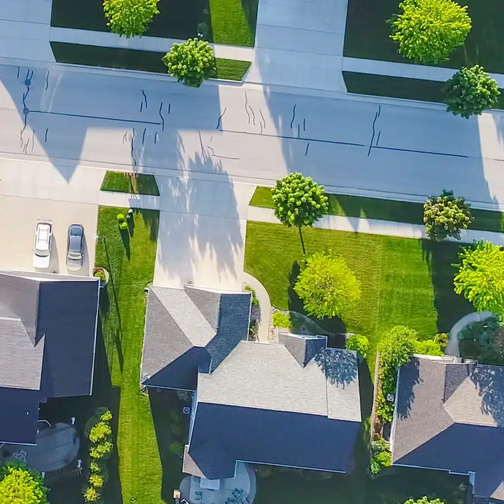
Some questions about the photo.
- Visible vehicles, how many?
2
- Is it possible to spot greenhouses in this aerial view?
No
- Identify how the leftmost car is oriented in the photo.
up and down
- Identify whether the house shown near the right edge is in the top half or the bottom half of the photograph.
bottom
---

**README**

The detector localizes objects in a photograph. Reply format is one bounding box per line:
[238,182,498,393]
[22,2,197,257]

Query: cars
[32,221,55,270]
[65,224,86,271]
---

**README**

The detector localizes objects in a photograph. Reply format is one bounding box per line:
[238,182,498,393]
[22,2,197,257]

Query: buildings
[138,283,362,480]
[0,270,100,449]
[383,353,504,496]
